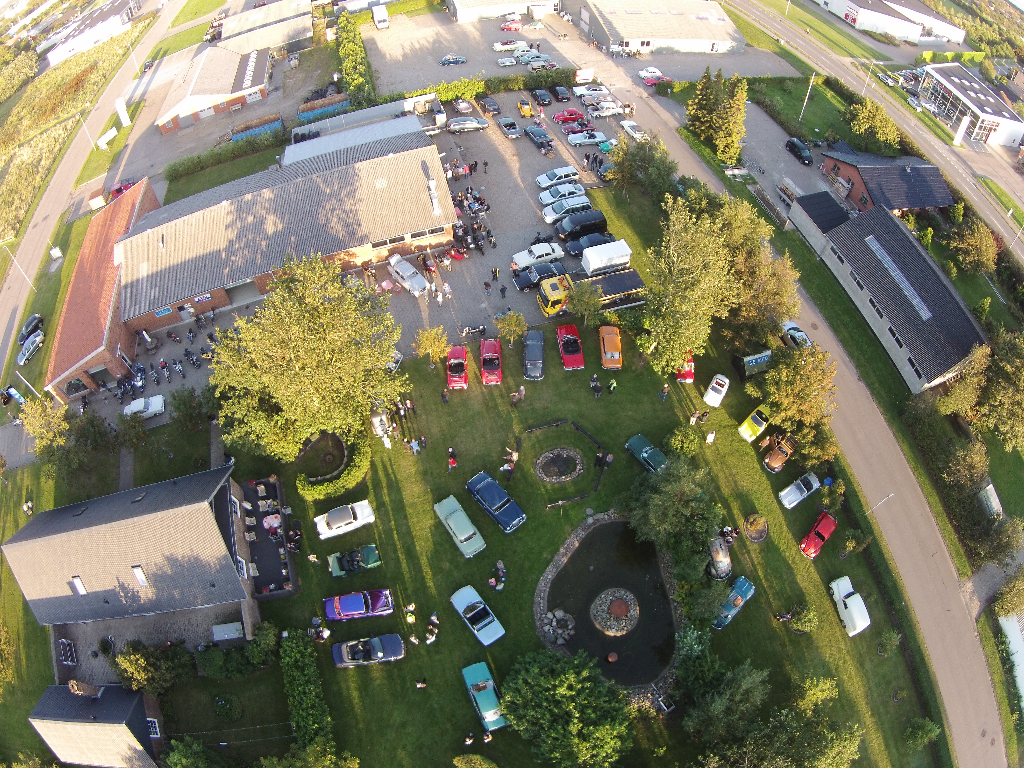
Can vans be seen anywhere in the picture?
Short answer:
Yes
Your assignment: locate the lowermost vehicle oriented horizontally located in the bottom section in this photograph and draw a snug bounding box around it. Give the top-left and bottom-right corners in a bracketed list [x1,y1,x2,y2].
[332,633,407,670]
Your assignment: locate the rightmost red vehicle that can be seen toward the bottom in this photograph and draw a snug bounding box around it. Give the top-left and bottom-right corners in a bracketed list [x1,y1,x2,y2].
[800,509,841,560]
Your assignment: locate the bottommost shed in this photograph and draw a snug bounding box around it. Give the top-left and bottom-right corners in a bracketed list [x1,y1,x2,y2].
[28,684,172,768]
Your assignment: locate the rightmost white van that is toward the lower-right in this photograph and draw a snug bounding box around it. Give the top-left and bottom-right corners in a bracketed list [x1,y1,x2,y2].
[832,575,875,637]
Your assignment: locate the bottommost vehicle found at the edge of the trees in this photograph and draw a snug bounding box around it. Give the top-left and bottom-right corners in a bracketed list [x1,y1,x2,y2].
[459,661,514,734]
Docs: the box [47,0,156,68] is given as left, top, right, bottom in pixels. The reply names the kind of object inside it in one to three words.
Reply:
building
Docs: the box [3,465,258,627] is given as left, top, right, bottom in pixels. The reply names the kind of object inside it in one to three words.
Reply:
house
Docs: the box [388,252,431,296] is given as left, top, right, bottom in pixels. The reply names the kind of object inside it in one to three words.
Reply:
car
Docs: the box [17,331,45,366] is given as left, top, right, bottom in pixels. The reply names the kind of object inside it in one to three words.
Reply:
car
